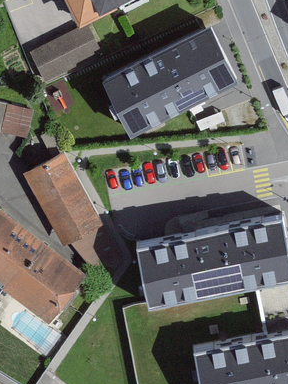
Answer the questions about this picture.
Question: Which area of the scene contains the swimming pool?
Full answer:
Look in the bottom left portion of the view to spot the swimming pool.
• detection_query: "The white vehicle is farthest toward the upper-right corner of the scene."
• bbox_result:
[269,84,288,119]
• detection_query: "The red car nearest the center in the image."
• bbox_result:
[143,162,155,183]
